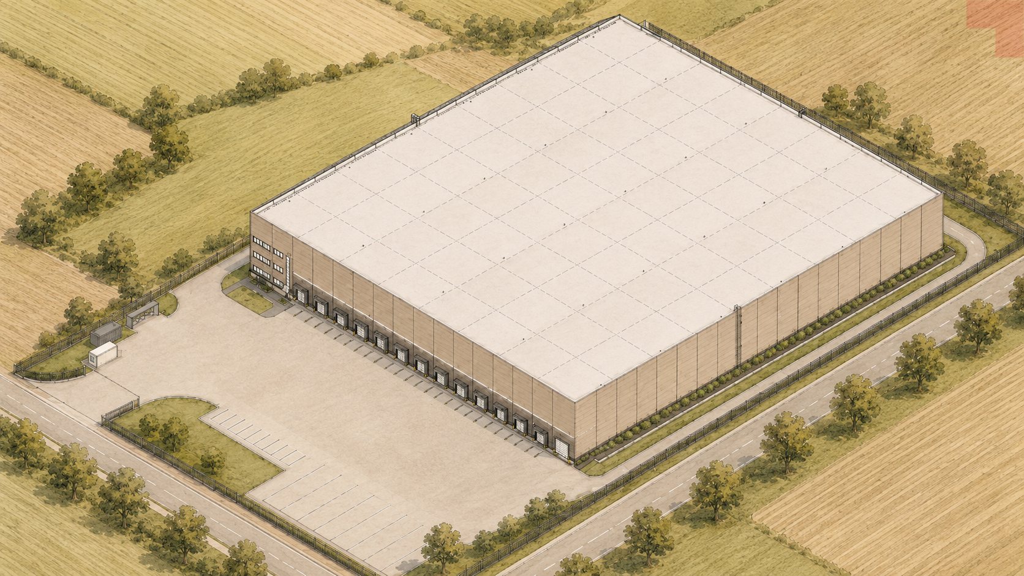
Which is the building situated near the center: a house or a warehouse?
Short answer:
warehouse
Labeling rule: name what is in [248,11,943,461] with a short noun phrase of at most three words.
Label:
warehouse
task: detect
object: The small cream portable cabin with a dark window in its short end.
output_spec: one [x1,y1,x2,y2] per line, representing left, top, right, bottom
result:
[88,339,118,367]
